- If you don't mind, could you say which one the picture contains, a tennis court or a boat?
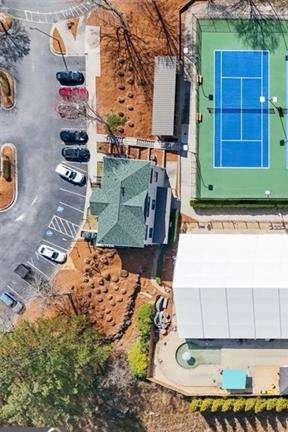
tennis court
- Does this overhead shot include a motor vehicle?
Yes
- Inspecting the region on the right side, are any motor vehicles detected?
No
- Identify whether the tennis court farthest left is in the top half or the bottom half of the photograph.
top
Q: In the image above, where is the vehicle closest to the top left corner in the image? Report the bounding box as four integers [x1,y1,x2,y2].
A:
[55,69,80,81]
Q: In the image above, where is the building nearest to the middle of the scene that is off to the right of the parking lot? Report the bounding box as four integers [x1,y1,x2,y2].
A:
[91,156,174,247]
